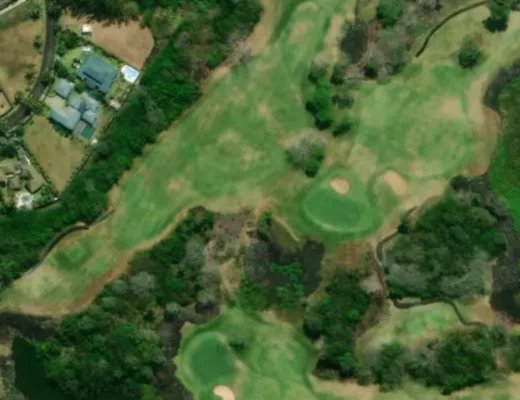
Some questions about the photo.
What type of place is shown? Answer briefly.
golf course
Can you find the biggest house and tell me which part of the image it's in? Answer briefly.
top left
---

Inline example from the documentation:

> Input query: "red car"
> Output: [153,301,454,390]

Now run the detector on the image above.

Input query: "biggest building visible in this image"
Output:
[76,53,117,93]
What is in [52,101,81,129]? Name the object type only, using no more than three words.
house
